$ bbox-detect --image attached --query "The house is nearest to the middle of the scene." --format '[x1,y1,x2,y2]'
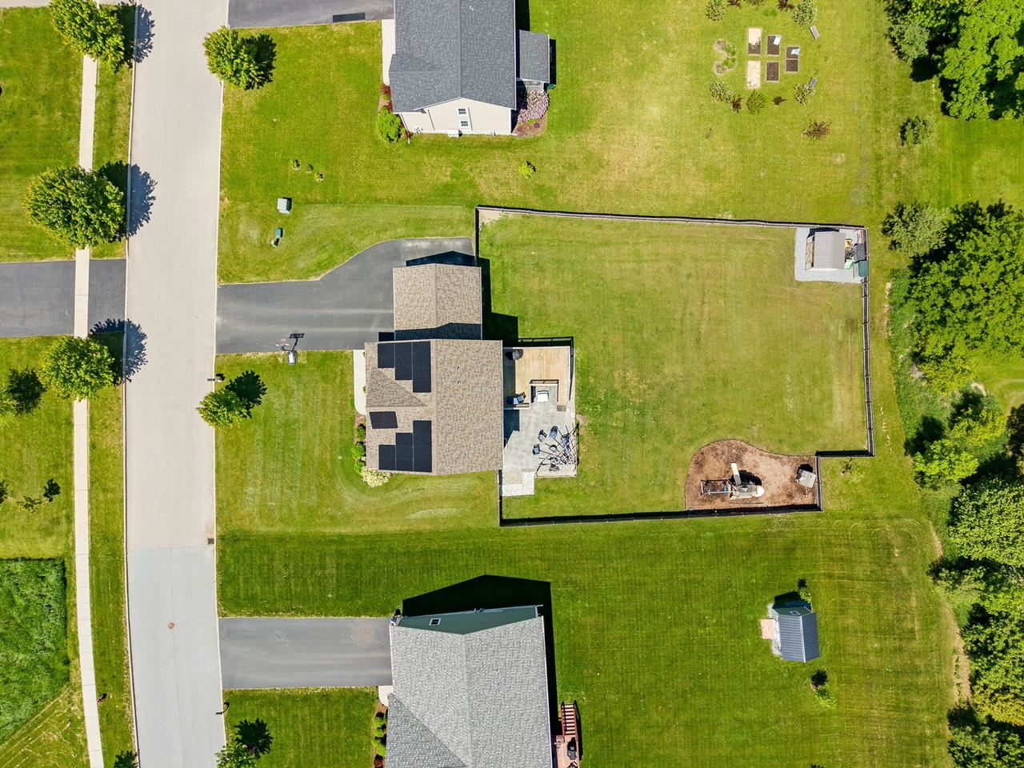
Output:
[361,263,504,477]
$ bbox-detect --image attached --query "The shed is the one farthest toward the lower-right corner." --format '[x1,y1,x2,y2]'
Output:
[772,605,819,664]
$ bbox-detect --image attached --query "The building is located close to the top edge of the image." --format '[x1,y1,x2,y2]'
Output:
[388,0,550,137]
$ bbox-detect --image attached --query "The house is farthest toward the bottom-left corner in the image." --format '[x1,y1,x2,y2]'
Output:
[385,605,553,768]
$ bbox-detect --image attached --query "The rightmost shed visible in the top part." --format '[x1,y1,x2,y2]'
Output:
[803,232,844,271]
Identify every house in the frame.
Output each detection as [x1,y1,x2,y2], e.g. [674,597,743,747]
[361,263,504,477]
[388,0,550,137]
[385,605,553,768]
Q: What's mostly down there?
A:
grass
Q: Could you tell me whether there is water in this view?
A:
No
